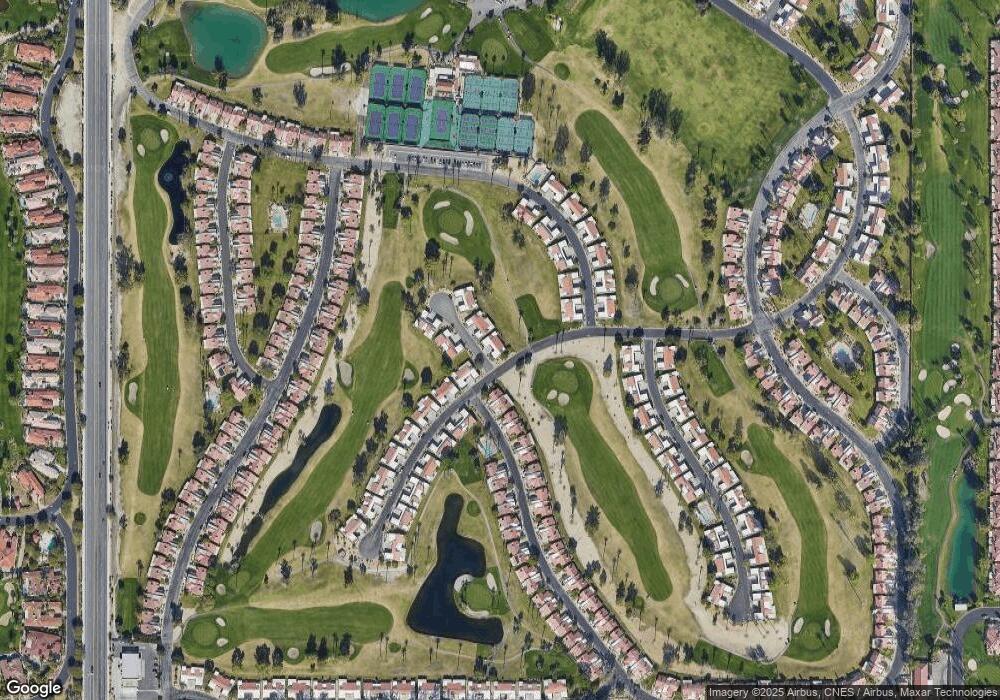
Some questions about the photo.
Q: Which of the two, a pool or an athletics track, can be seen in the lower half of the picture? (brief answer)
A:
pool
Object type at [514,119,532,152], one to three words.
tennis court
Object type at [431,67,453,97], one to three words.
building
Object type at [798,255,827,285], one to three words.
house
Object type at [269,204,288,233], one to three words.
swimming pool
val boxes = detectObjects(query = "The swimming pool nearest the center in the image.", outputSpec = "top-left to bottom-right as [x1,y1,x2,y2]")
[479,435,498,459]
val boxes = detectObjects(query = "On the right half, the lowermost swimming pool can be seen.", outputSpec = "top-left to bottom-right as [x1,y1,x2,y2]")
[696,501,718,526]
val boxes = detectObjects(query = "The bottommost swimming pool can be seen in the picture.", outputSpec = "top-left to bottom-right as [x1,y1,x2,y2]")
[40,533,57,551]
